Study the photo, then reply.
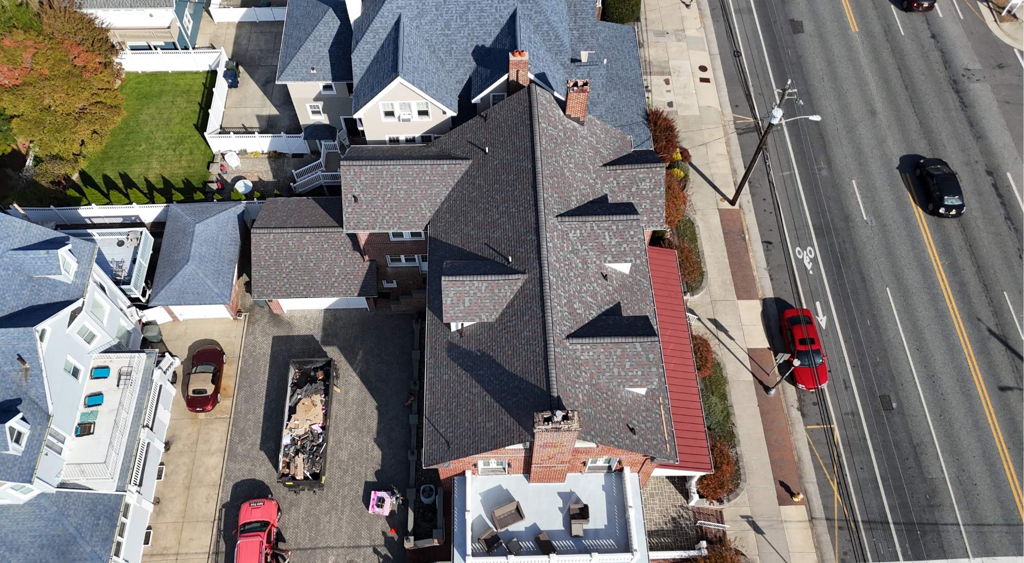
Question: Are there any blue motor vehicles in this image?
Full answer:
No, this view has no blue motor vehicle in it.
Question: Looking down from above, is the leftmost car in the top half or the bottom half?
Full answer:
Seen from above, the leftmost car lies in the bottom half of the view.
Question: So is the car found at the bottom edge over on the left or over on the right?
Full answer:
The car found at the bottom edge appears in the left half of the scene.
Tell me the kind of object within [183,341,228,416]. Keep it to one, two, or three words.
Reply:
car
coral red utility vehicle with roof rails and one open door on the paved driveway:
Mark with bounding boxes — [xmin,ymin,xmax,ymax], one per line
[236,499,301,563]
